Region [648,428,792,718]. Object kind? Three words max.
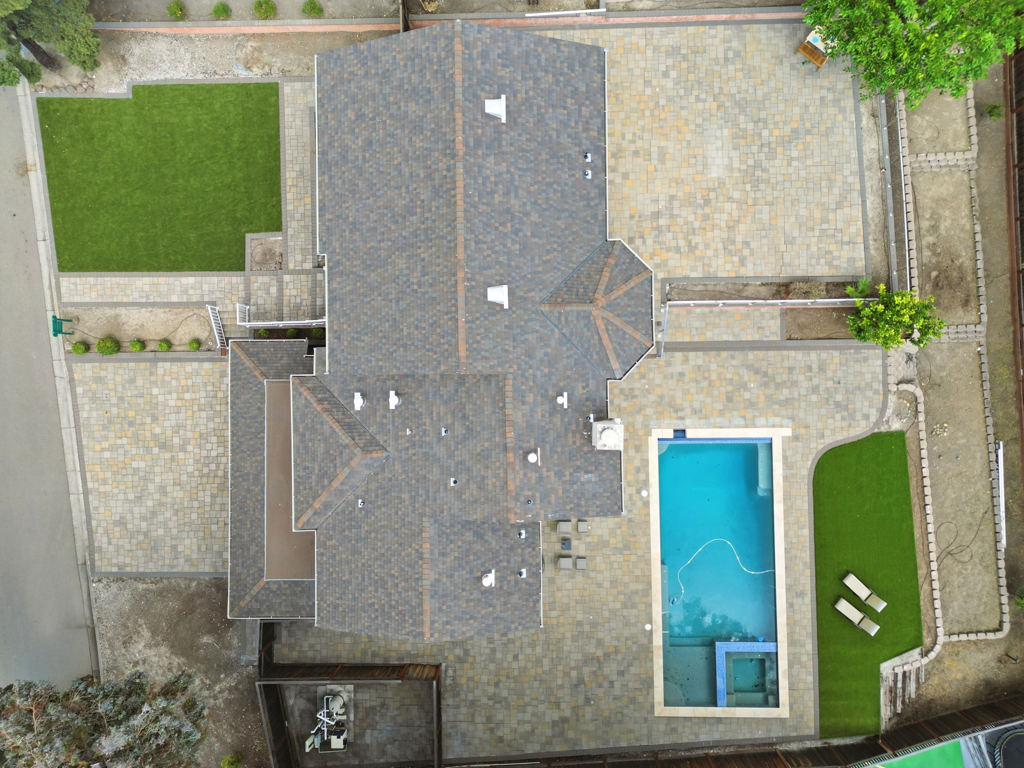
swimming pool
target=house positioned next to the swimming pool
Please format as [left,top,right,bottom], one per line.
[226,17,657,642]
